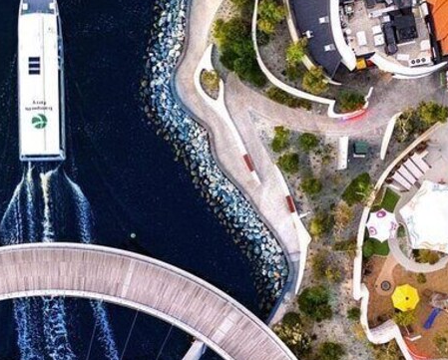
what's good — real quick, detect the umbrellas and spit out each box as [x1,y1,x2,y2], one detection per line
[391,284,416,310]
[366,210,397,240]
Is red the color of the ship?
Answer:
No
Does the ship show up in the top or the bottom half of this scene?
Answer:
top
